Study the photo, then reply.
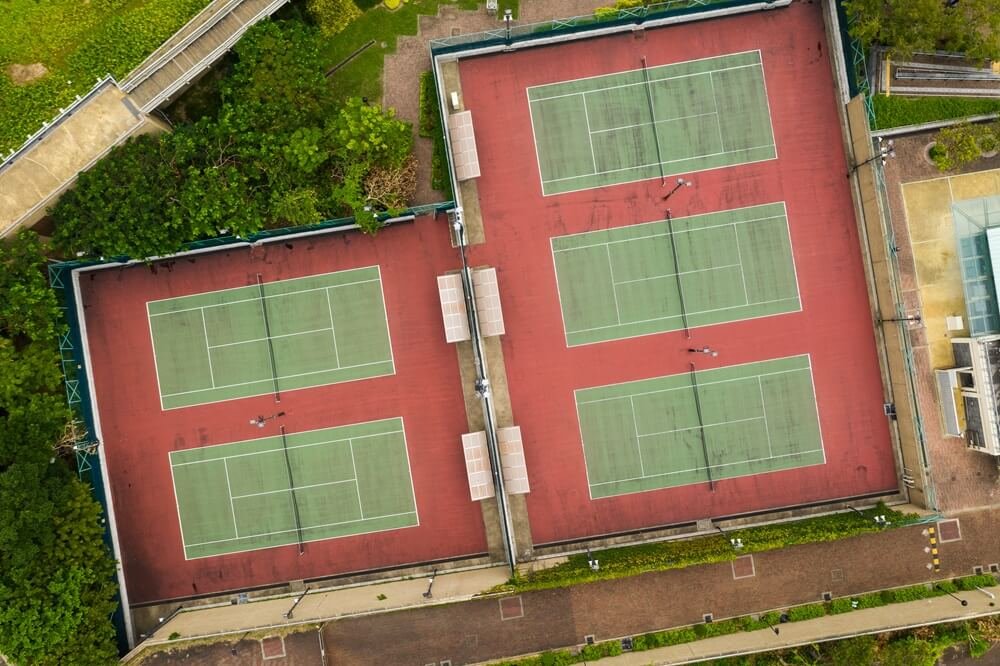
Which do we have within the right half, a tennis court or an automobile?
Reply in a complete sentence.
There is a tennis court within the right half.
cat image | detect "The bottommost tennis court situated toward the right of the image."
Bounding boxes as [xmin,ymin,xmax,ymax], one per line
[575,354,825,500]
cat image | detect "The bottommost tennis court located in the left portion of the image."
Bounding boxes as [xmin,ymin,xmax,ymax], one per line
[167,415,420,562]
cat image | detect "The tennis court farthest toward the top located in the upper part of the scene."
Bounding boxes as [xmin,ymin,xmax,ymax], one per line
[527,52,776,194]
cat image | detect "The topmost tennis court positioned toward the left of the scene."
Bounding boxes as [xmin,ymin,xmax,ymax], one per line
[146,266,397,411]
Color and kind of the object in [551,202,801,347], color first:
green tennis court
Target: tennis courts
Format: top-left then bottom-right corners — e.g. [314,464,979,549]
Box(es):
[527,52,776,194]
[146,266,397,411]
[551,202,801,347]
[575,354,825,500]
[167,415,420,562]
